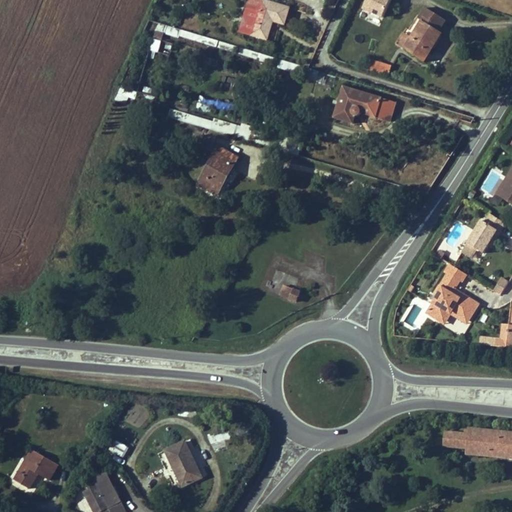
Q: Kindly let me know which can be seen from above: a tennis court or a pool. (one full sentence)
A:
Visible in the photo is a pool.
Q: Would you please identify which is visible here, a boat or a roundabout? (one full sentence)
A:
This aerial view contains a roundabout.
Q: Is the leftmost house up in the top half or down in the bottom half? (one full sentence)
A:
You can find the leftmost house in the bottom half.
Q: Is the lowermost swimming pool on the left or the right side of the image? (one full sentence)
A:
You can find the lowermost swimming pool on the right side of the picture.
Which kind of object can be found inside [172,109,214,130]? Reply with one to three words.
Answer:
greenhouse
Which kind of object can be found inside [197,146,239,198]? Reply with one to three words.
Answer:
house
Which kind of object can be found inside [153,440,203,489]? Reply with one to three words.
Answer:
house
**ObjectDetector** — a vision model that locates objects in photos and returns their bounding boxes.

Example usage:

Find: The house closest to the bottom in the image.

[78,472,128,512]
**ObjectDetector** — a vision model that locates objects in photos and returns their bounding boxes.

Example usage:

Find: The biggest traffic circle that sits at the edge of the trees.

[256,318,394,450]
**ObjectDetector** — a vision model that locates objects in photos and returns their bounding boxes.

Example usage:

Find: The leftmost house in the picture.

[10,451,58,492]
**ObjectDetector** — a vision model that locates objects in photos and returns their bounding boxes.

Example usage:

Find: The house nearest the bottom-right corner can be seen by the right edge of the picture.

[442,428,512,460]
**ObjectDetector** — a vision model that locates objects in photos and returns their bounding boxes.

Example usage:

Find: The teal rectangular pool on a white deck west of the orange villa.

[400,297,430,330]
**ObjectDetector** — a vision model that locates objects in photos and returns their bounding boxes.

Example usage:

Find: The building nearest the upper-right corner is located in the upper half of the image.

[395,7,446,64]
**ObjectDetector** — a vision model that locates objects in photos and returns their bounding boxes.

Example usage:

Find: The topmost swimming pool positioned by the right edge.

[480,168,503,198]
